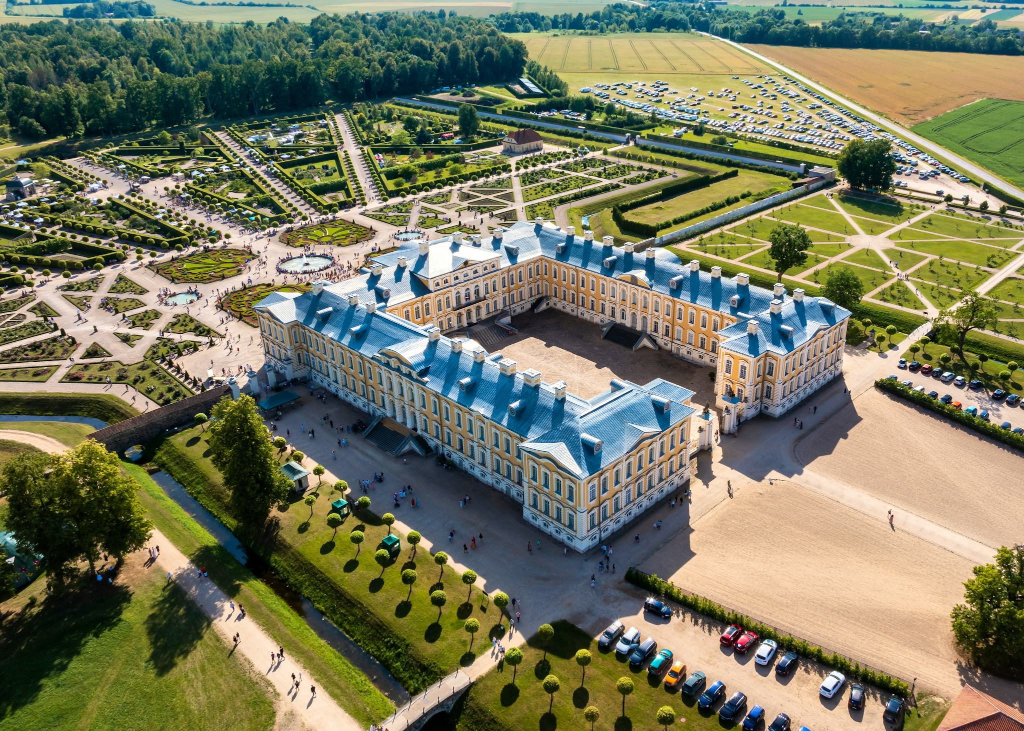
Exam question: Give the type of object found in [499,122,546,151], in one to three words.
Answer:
house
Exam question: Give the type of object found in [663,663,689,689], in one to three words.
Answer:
car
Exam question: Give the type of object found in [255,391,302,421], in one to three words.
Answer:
tent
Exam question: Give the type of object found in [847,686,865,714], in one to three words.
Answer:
car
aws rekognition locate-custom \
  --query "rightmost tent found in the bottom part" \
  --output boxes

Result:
[381,534,403,559]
